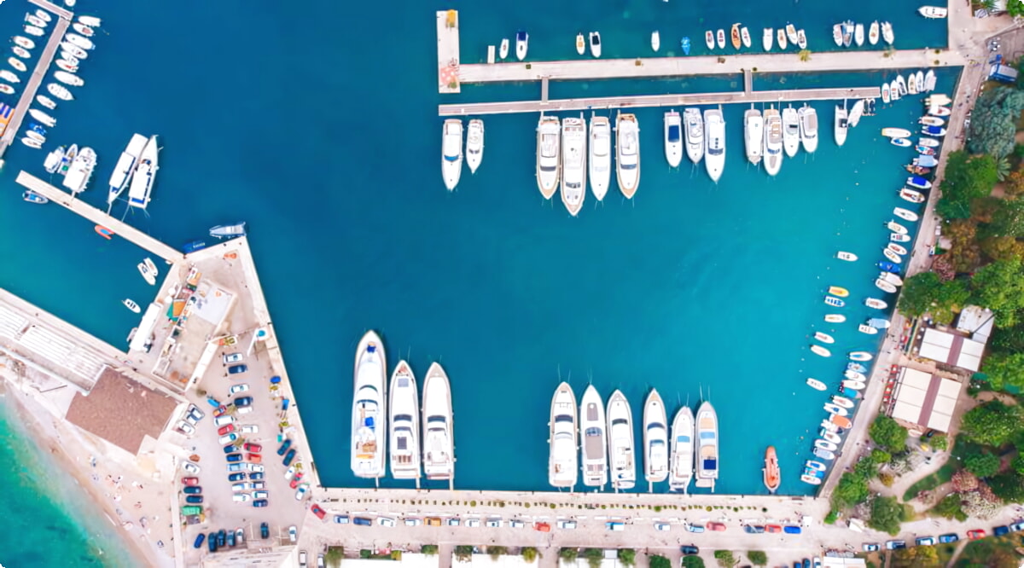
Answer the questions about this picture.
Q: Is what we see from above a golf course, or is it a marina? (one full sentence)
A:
What you see here is a marina.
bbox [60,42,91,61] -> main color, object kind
white boat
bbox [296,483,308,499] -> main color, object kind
white vehicle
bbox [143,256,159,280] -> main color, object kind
white boat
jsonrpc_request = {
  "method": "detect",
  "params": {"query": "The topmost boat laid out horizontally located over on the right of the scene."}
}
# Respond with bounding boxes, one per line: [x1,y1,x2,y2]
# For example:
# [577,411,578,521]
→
[919,5,948,18]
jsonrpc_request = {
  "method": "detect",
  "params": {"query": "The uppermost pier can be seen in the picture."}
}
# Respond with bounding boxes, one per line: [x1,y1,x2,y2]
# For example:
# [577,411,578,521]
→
[35,0,75,22]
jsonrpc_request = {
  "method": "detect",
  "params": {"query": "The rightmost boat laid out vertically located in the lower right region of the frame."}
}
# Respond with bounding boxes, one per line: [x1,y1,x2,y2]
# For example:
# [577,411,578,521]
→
[762,447,780,495]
